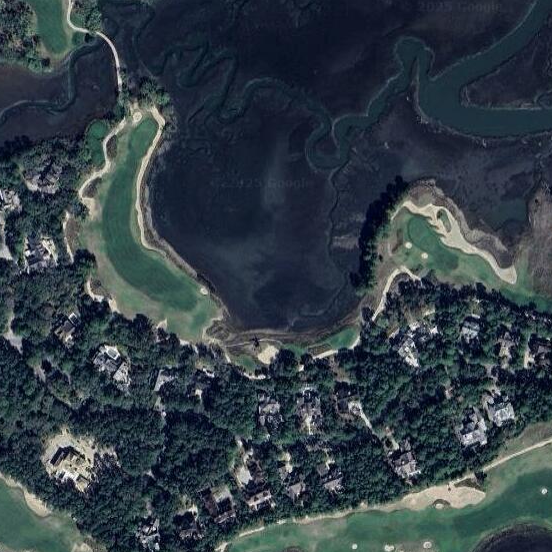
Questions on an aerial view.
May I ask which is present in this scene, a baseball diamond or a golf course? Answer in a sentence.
Looking from above, you can make out a golf course.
